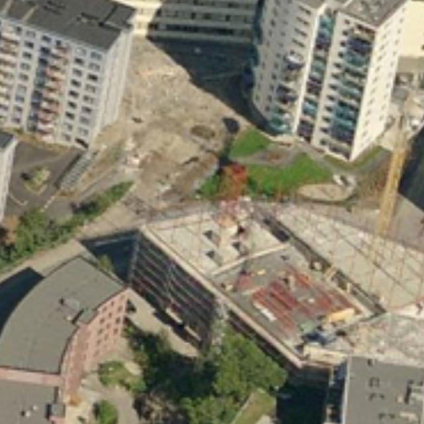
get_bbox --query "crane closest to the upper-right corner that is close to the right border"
[376,104,419,241]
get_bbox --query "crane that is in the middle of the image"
[219,168,247,235]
